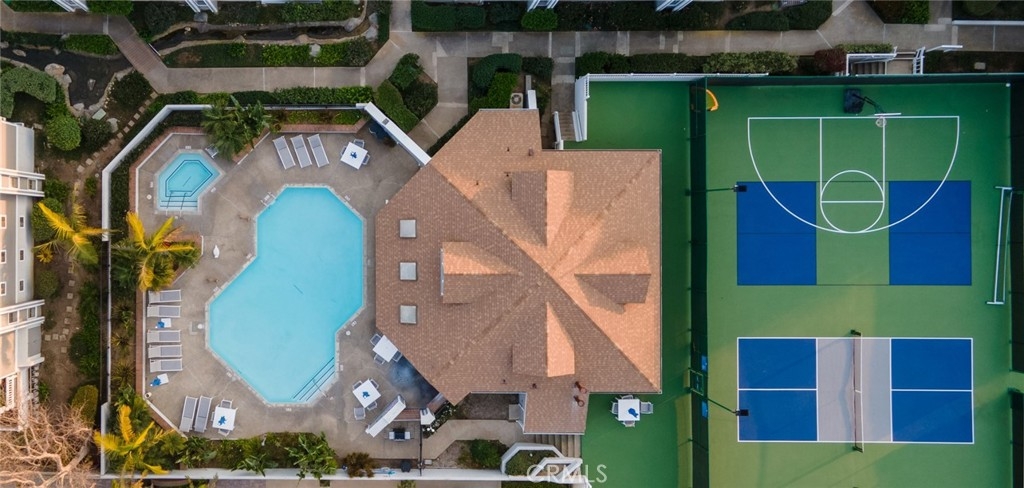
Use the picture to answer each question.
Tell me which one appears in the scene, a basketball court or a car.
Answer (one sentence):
The one in the frame is a basketball court.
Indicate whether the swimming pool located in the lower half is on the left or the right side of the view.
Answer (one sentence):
The swimming pool located in the lower half is on the left side of the image.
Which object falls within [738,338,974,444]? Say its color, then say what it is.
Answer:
blue sports court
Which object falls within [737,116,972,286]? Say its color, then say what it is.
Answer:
blue basketball court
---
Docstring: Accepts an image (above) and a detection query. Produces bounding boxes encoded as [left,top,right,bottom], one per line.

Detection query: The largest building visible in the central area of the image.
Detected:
[376,108,662,436]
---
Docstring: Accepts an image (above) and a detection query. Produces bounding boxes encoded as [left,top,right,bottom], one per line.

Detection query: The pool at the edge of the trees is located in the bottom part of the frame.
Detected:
[203,183,368,408]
